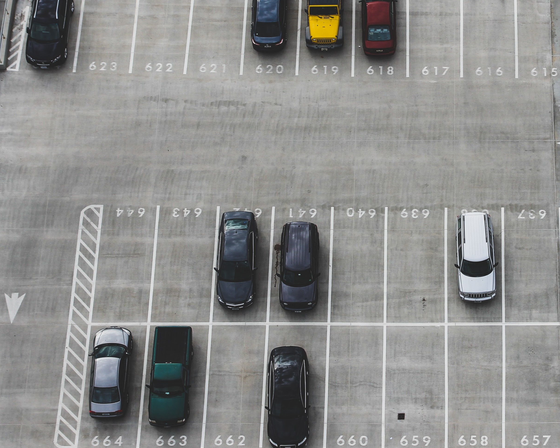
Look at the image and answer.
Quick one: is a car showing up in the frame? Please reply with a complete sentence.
Yes, looking at the shot, I can spot a car.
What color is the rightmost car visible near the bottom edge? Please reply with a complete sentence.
In this view, the rightmost car visible near the bottom edge is black.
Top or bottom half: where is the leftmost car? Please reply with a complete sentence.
The top half of the photo is where the leftmost car is.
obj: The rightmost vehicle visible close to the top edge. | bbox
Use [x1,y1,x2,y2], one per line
[362,0,397,56]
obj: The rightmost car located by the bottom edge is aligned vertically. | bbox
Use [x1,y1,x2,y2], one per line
[262,345,312,448]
